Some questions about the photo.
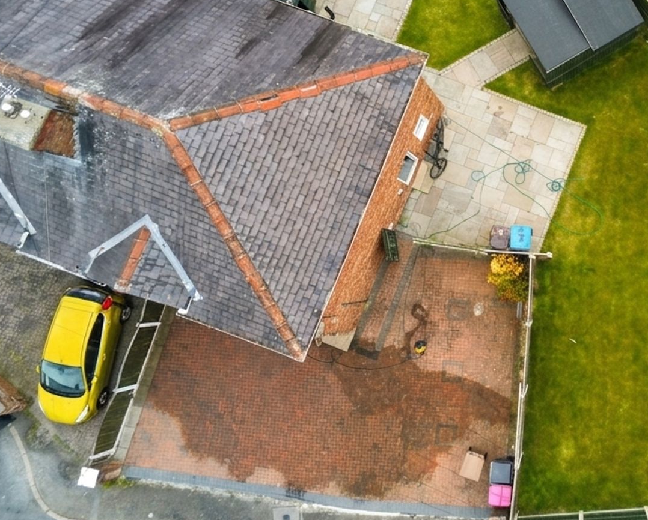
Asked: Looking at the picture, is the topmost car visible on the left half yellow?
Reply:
Yes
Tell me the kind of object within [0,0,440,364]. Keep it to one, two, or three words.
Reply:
house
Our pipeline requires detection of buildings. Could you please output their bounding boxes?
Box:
[0,0,440,364]
[504,0,641,85]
